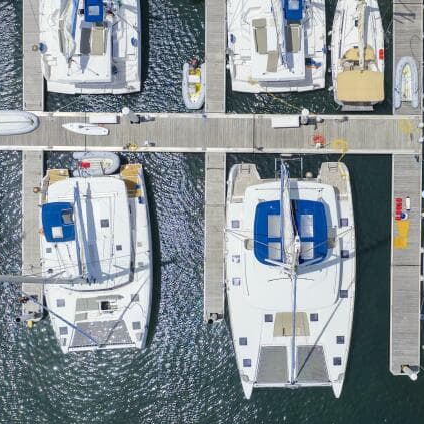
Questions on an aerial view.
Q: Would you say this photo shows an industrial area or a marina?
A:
marina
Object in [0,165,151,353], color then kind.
white boat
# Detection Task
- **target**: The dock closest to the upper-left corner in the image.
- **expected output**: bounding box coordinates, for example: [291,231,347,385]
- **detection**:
[23,0,44,112]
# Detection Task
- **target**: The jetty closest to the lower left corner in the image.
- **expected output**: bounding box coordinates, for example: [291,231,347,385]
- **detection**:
[22,151,44,321]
